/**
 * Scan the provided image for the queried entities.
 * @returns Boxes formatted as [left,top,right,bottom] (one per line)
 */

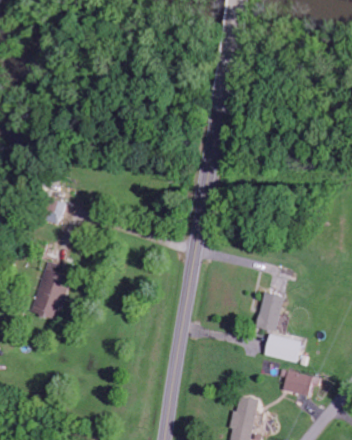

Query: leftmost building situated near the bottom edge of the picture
[230,398,258,440]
